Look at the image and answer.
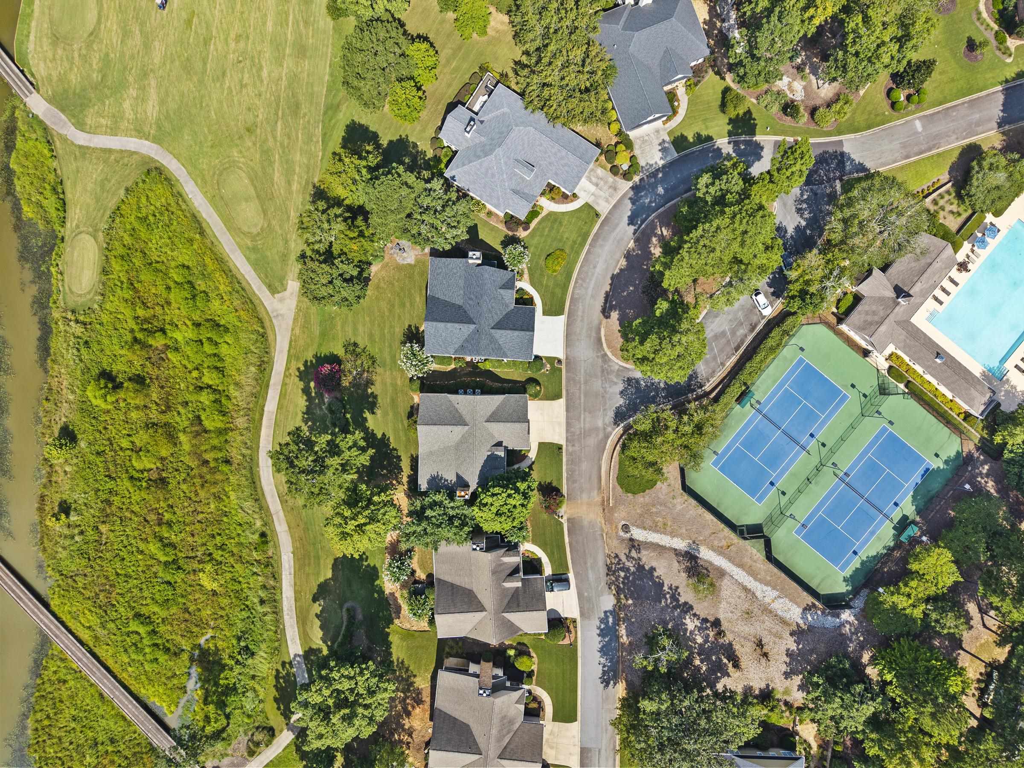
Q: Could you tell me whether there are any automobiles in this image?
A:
Yes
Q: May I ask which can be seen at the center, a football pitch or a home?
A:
home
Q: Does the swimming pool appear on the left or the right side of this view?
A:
right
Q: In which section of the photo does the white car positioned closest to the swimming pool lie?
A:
right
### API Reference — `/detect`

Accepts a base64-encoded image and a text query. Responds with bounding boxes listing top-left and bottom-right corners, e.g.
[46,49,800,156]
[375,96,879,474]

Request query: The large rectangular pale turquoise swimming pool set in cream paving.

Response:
[928,216,1024,381]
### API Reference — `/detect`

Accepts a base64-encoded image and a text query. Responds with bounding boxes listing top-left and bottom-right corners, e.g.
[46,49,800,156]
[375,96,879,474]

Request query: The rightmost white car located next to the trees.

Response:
[749,289,771,316]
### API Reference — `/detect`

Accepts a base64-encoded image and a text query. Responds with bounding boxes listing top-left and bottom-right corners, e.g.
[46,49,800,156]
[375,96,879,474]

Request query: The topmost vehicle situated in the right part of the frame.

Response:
[777,245,798,272]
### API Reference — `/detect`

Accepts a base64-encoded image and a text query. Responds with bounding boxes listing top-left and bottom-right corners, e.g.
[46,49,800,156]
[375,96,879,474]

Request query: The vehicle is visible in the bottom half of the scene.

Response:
[546,579,572,594]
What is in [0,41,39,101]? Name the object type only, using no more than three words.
bridge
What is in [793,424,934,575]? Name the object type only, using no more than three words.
tennis court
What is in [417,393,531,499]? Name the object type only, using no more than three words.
house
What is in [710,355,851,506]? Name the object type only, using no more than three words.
tennis court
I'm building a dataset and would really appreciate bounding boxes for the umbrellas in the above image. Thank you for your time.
[970,237,987,251]
[981,225,997,240]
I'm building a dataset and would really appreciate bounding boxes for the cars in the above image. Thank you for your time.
[777,245,798,272]
[546,579,572,594]
[749,289,771,316]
